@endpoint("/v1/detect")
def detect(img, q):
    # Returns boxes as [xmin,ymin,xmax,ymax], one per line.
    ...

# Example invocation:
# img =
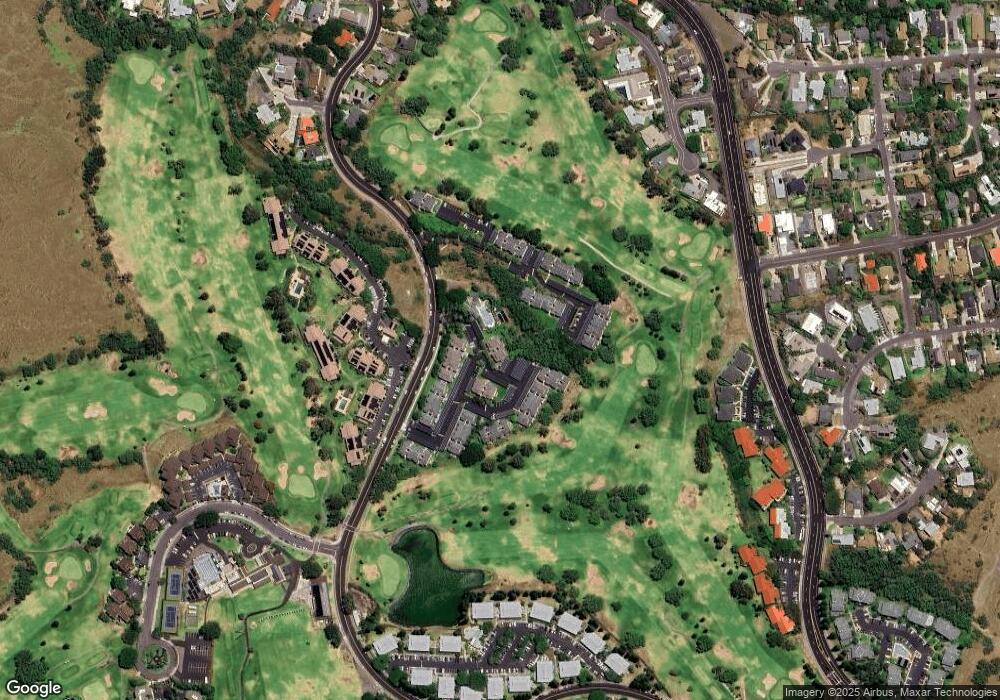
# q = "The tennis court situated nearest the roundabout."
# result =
[163,599,181,634]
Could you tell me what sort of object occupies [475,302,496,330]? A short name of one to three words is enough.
swimming pool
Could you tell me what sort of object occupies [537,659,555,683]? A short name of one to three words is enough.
building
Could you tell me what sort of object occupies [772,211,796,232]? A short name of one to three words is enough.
house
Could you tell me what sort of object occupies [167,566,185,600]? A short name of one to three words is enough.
tennis court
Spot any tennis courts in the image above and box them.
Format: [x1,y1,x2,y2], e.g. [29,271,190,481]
[163,599,181,634]
[167,566,185,600]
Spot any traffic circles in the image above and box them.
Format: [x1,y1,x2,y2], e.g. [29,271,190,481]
[136,638,179,680]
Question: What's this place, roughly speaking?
golf course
